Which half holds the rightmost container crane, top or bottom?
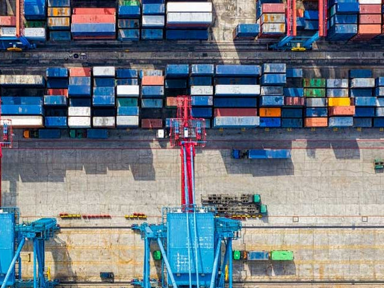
top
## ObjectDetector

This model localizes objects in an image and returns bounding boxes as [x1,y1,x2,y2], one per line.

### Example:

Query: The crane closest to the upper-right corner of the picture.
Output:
[261,0,330,52]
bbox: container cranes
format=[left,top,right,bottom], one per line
[0,96,69,288]
[0,0,44,52]
[261,0,330,52]
[134,96,242,288]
